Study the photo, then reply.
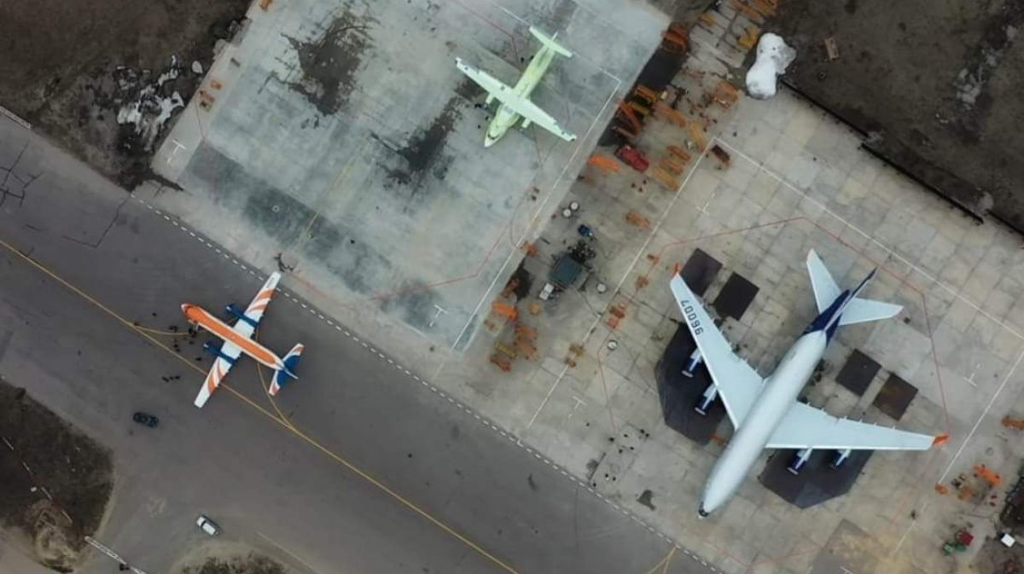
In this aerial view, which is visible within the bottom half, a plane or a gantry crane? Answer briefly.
plane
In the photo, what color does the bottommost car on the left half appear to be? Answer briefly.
white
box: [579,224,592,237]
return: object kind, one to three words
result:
vehicle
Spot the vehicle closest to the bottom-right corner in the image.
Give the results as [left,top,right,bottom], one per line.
[1001,533,1020,550]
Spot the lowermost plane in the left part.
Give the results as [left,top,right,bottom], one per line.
[182,273,304,408]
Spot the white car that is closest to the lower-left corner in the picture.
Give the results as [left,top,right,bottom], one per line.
[194,517,220,537]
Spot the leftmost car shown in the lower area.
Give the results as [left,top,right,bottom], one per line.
[132,411,158,428]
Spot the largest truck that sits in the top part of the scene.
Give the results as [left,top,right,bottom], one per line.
[615,145,650,173]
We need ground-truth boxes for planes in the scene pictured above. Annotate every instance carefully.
[673,253,950,516]
[453,24,577,147]
[182,273,304,408]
